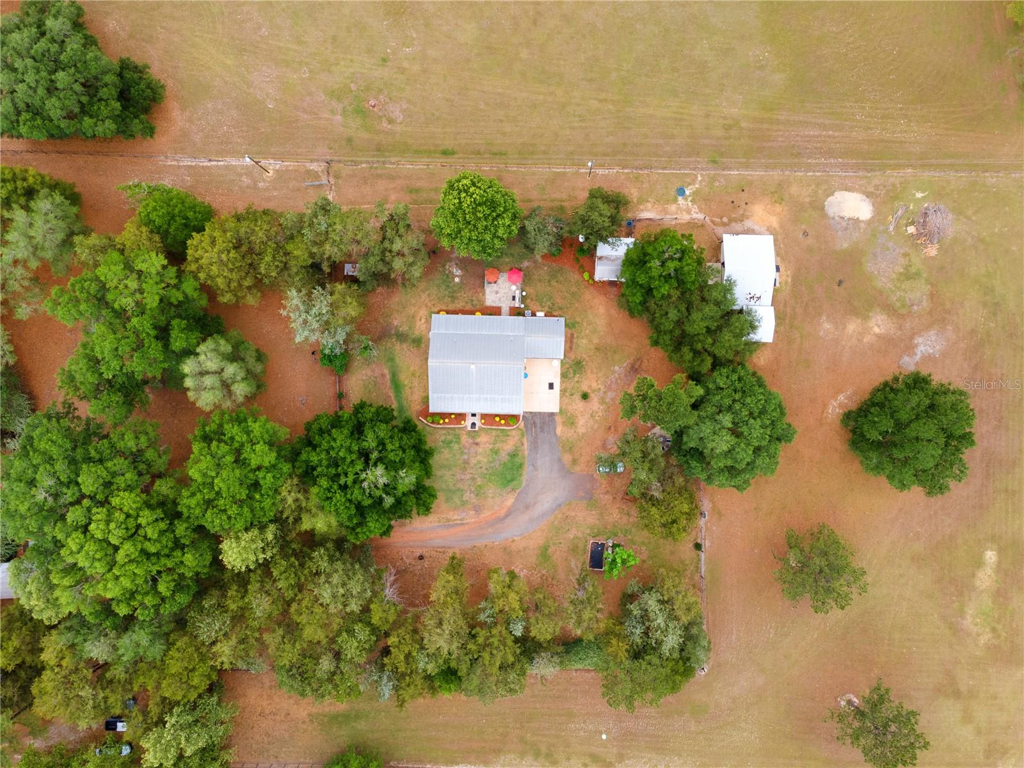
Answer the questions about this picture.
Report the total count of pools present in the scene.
0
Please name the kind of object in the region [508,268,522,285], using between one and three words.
umbrella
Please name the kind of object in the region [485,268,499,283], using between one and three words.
umbrella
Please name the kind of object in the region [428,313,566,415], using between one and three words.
house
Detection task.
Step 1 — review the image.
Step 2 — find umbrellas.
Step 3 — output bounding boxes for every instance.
[485,268,499,283]
[508,268,522,285]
